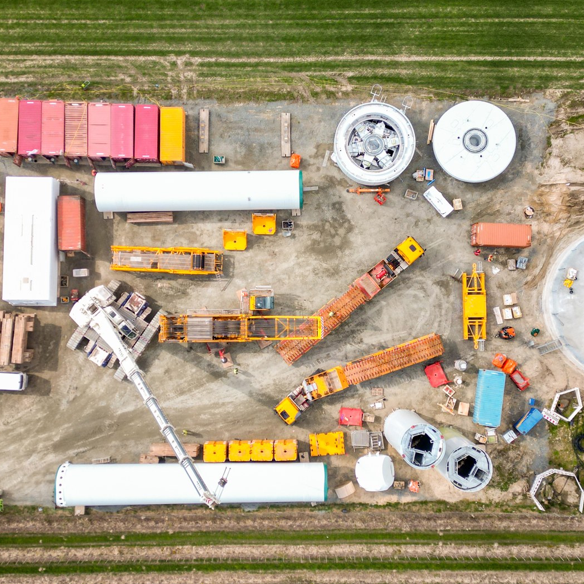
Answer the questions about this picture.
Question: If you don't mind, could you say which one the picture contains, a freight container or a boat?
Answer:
freight container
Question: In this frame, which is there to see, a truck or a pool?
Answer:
truck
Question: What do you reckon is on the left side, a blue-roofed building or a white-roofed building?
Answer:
white-roofed building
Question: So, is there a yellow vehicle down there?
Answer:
Yes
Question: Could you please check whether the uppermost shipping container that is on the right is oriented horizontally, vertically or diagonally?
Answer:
horizontally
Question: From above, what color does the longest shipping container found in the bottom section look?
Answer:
blue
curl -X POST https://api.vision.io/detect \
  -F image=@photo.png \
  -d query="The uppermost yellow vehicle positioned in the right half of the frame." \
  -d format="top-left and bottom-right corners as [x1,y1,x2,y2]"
[380,233,426,287]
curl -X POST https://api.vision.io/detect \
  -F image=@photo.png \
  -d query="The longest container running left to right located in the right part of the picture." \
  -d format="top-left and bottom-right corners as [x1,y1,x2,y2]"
[471,223,532,249]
